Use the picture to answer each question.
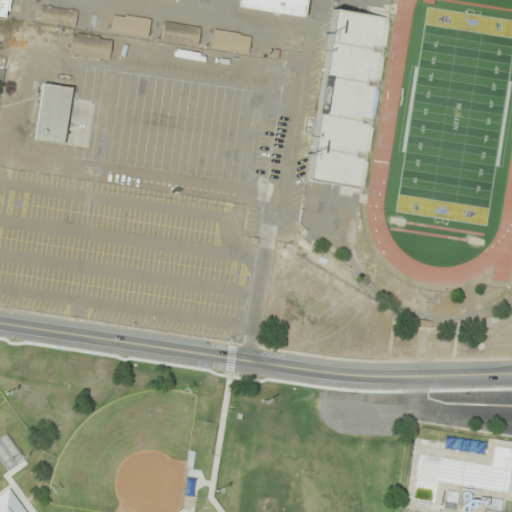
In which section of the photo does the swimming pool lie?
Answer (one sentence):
The swimming pool is in the bottom right part of the image.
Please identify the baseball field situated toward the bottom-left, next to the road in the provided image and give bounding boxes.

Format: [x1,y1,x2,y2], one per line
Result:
[51,390,196,512]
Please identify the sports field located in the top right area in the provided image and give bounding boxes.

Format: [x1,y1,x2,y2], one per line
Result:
[384,0,512,266]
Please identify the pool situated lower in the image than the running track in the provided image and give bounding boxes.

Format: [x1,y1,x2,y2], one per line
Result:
[414,446,512,506]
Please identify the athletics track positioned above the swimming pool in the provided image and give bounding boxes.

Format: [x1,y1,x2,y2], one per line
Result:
[367,0,512,291]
